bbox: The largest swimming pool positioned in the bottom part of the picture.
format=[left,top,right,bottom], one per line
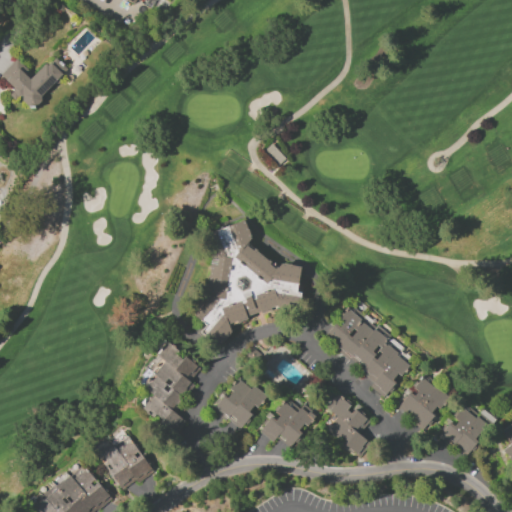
[260,344,315,391]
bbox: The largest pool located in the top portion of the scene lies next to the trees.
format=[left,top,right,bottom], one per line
[68,28,102,77]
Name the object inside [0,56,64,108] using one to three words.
house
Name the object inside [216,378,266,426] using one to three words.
house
